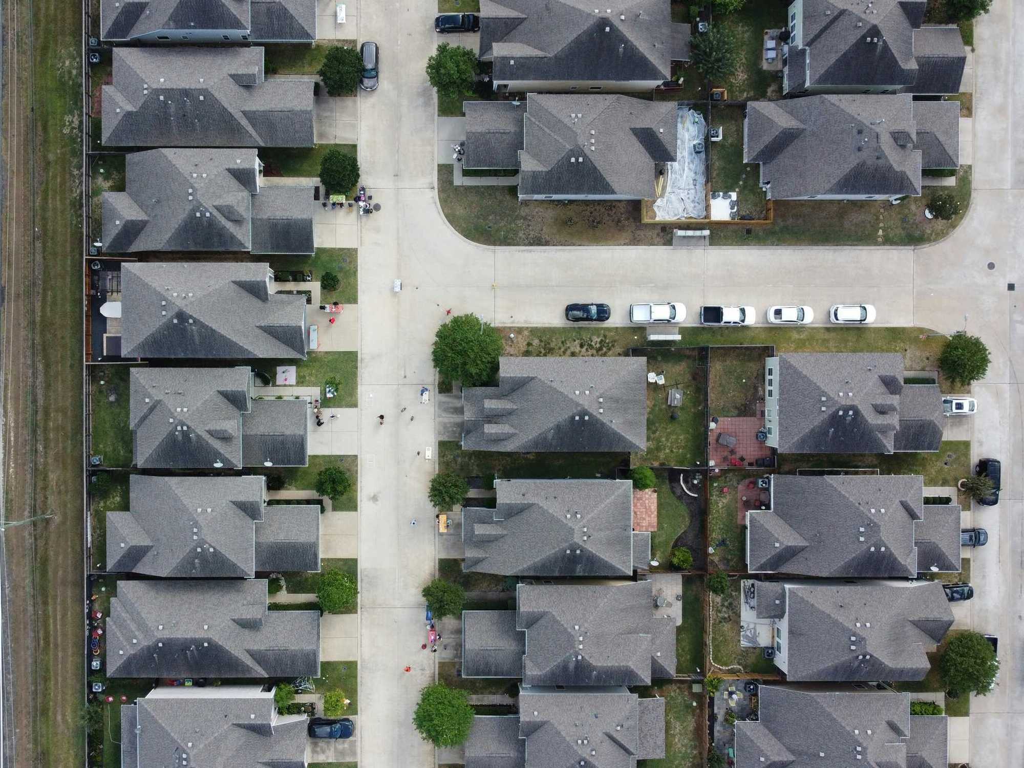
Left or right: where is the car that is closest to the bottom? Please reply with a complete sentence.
It is on the left.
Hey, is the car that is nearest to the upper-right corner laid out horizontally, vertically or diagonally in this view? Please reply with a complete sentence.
The car that is nearest to the upper-right corner is laid out horizontally.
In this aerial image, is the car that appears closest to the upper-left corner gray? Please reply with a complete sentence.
Yes, gray is the color of the car that appears closest to the upper-left corner.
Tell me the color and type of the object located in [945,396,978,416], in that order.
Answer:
white car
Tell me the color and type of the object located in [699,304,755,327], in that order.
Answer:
white truck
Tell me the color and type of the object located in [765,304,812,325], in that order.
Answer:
white car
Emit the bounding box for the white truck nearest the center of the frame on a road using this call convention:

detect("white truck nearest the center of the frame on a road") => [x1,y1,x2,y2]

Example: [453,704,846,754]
[628,300,686,324]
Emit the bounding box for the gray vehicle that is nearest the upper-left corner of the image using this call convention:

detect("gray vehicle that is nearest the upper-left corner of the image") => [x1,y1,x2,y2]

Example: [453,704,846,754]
[359,42,380,93]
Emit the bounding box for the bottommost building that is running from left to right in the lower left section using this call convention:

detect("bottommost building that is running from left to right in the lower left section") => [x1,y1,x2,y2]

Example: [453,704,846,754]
[121,684,310,768]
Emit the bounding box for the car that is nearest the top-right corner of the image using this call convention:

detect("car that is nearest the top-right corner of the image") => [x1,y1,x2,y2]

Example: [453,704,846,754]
[827,302,874,325]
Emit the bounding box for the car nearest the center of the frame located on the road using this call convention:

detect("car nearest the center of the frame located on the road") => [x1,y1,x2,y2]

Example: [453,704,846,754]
[565,300,610,323]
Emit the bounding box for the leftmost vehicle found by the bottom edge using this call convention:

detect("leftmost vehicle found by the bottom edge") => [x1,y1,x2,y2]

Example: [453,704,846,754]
[309,716,353,741]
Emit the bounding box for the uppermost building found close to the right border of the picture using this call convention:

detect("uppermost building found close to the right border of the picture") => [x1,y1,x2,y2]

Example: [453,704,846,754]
[783,0,973,99]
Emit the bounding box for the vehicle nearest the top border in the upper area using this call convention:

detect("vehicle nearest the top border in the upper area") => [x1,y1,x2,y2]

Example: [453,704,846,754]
[435,10,478,35]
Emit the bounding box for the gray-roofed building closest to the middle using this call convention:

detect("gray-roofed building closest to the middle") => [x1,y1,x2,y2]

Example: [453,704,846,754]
[462,356,647,452]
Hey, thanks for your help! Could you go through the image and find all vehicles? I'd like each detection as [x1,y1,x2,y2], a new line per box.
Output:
[961,527,988,549]
[309,716,353,741]
[941,581,976,603]
[973,458,1001,504]
[827,302,874,325]
[628,300,686,324]
[565,300,610,323]
[435,10,478,35]
[699,304,755,327]
[945,396,978,416]
[765,304,812,325]
[359,42,380,93]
